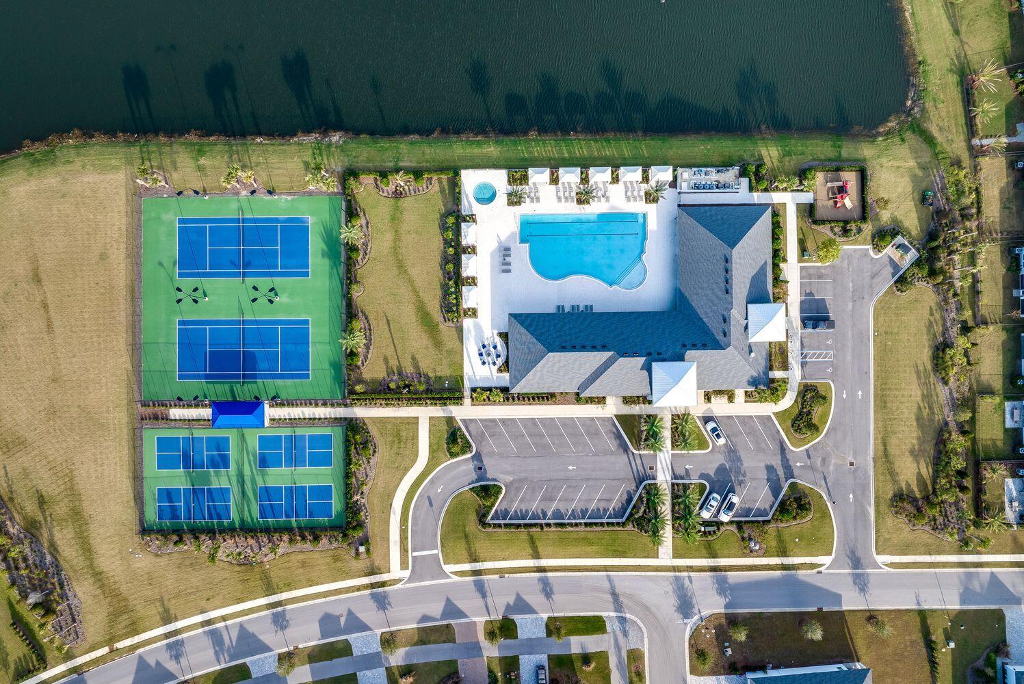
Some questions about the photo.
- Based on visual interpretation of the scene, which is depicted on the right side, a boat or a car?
car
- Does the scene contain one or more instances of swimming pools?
Yes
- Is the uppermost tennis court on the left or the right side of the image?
left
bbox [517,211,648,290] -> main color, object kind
blue swimming pool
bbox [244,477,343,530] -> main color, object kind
blue sports court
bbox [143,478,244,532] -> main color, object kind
blue sports court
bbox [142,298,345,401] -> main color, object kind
green tennis court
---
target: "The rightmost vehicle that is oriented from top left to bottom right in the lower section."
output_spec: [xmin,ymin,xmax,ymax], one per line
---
[705,420,725,447]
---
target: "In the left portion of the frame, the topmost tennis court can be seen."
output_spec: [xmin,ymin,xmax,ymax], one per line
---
[142,196,344,299]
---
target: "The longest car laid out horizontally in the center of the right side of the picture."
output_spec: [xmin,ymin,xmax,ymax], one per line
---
[802,318,836,331]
